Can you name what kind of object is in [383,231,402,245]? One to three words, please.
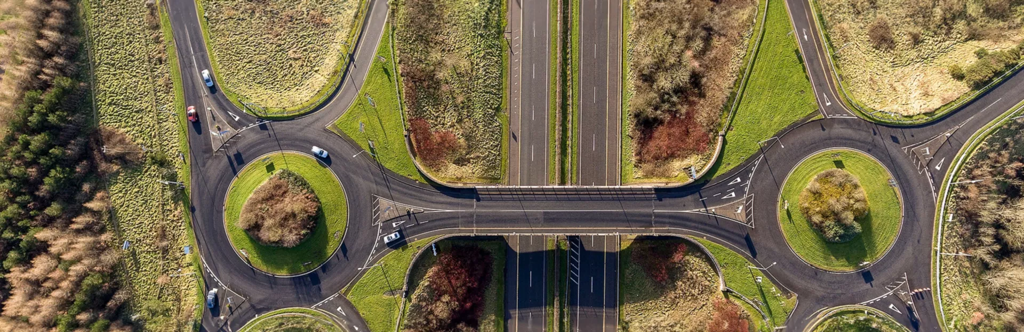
car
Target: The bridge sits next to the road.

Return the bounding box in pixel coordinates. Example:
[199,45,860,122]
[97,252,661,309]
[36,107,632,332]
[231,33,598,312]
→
[473,184,659,237]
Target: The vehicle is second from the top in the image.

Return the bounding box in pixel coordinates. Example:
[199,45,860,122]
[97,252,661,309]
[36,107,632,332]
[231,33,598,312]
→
[187,105,199,122]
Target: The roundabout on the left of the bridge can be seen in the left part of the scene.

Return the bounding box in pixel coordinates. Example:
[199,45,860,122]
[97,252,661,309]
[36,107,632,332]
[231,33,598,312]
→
[197,125,375,303]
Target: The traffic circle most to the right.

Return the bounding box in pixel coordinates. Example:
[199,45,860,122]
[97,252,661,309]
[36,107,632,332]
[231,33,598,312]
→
[753,121,930,299]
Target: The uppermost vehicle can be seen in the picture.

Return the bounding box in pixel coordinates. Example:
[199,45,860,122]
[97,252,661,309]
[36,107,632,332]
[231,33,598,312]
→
[199,69,215,88]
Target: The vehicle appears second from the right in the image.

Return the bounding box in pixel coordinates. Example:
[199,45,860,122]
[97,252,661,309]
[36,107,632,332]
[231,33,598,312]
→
[310,146,330,159]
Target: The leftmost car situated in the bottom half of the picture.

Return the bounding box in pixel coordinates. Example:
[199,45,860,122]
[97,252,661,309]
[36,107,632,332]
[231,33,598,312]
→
[206,289,218,308]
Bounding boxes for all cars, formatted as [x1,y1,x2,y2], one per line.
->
[383,231,402,245]
[310,146,330,159]
[206,289,218,308]
[199,69,215,88]
[187,105,199,122]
